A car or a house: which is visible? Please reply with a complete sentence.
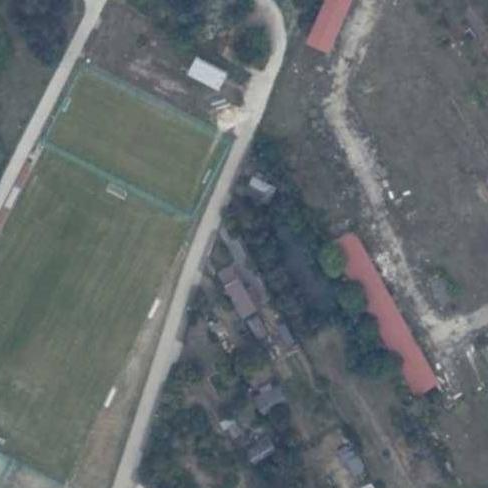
I can see a house in this picture.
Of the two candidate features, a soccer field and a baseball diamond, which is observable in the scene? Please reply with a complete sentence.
I can see a soccer field in this picture.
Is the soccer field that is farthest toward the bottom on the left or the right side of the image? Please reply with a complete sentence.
You can find the soccer field that is farthest toward the bottom on the left side of the picture.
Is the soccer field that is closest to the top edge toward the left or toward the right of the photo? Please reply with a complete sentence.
The soccer field that is closest to the top edge is on the left side of the image.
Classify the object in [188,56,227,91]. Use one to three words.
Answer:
building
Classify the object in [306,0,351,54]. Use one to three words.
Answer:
barn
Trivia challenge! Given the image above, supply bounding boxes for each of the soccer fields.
[0,150,192,486]
[47,68,224,214]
